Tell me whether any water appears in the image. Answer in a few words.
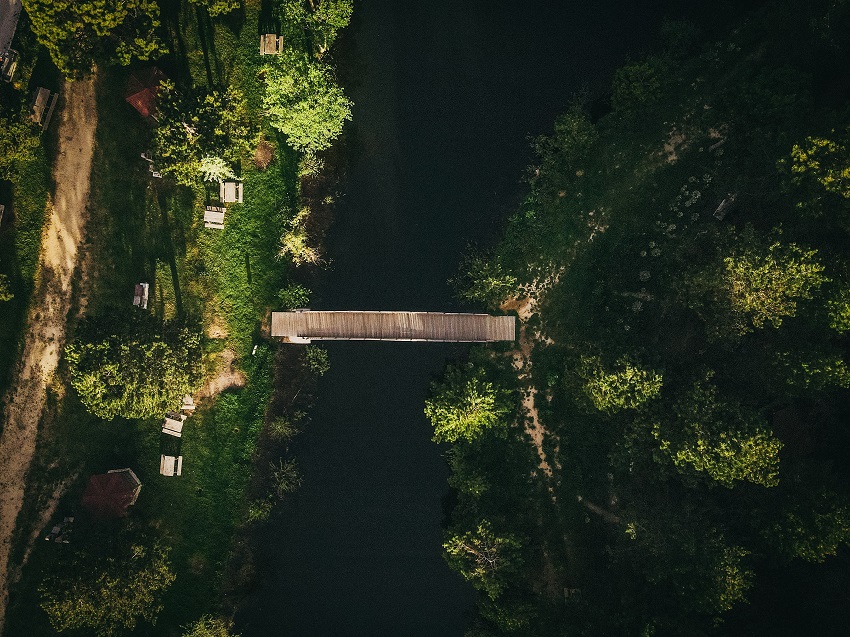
Yes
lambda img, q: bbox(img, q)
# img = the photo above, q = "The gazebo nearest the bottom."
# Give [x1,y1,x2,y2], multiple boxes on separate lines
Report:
[82,463,149,519]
